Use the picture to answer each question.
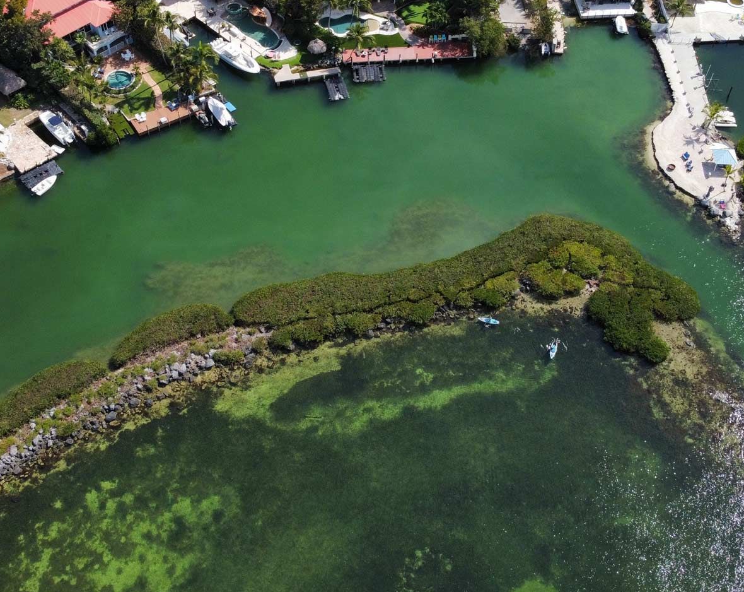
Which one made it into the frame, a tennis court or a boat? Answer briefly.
boat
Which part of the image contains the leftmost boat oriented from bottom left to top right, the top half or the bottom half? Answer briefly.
top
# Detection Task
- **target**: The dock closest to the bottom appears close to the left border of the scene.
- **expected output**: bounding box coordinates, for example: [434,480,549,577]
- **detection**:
[21,160,65,187]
